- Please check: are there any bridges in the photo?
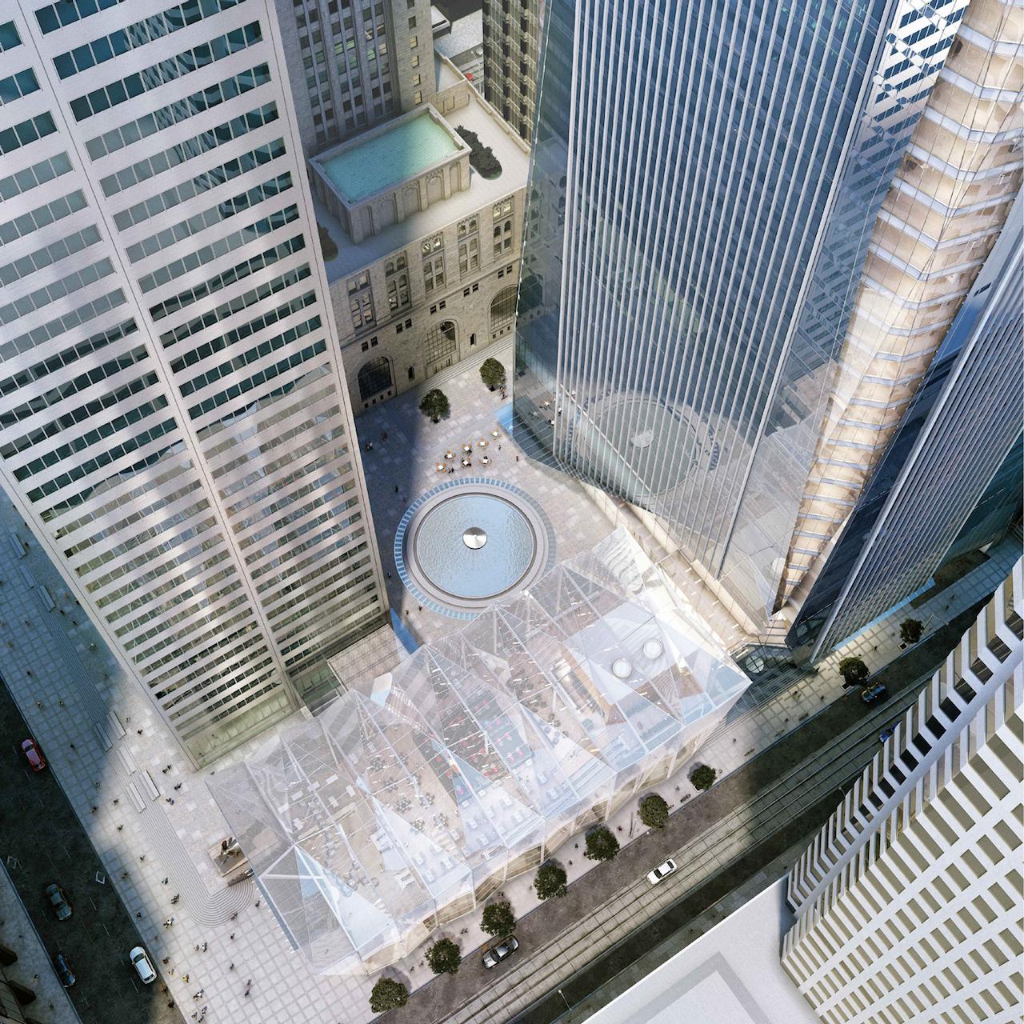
No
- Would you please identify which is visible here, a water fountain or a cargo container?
water fountain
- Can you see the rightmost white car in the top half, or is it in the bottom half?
bottom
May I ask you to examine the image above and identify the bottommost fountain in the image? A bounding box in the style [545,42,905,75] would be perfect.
[394,477,557,621]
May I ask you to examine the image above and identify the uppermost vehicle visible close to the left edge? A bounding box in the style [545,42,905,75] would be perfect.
[20,740,49,777]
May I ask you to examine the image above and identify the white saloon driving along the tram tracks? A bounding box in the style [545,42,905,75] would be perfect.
[645,858,681,889]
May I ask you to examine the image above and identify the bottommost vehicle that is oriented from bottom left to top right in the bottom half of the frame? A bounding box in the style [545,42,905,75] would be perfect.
[480,934,522,970]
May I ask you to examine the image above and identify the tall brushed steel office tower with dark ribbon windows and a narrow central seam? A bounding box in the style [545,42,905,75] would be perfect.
[0,0,396,772]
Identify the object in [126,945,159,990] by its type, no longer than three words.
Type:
car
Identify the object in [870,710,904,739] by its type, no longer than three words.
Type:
car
